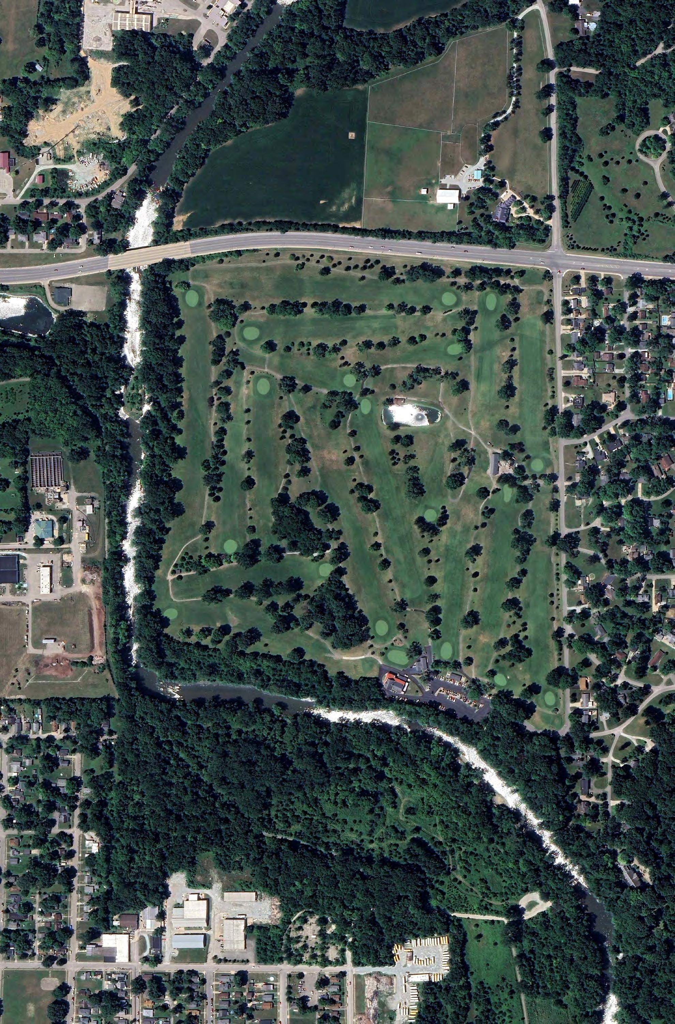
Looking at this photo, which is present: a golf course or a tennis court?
golf course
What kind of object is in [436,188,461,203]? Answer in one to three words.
barn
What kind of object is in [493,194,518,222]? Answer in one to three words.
house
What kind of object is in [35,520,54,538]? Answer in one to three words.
building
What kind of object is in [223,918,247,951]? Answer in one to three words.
building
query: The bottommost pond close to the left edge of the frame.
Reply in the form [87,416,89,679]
[0,294,54,336]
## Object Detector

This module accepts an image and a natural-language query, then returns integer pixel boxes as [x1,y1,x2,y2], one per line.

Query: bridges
[107,240,196,270]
